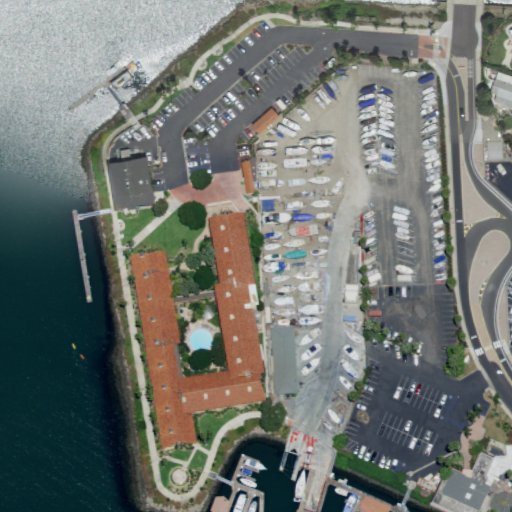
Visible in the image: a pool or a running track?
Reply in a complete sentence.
The image shows a pool.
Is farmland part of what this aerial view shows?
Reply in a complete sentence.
No, no farmland is visible.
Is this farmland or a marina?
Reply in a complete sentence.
This looks like a marina.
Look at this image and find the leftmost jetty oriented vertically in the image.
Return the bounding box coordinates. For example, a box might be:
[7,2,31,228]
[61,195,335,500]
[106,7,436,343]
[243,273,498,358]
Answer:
[73,210,92,302]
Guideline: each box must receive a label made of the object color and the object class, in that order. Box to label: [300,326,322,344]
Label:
white boat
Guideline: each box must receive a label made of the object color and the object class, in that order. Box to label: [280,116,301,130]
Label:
white boat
